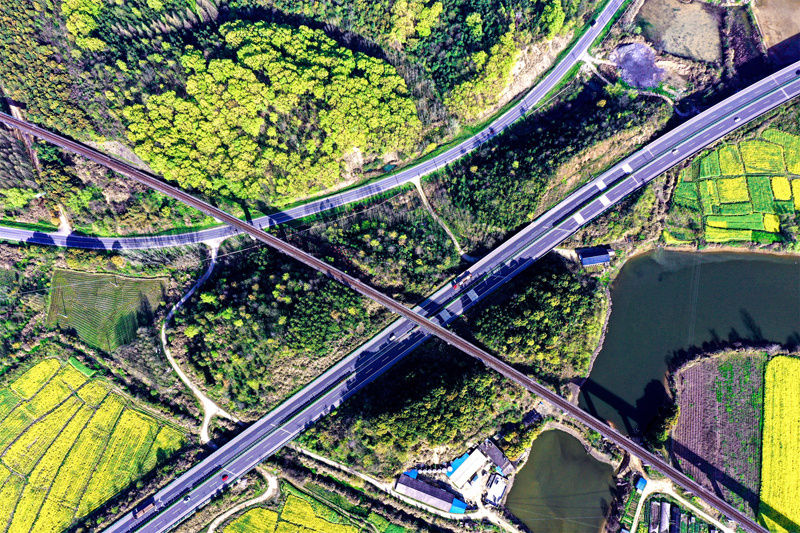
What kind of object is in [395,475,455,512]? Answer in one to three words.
barn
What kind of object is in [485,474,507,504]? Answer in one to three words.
house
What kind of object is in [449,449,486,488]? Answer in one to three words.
shed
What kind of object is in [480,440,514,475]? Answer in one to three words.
house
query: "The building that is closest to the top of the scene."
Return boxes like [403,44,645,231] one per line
[582,247,610,266]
